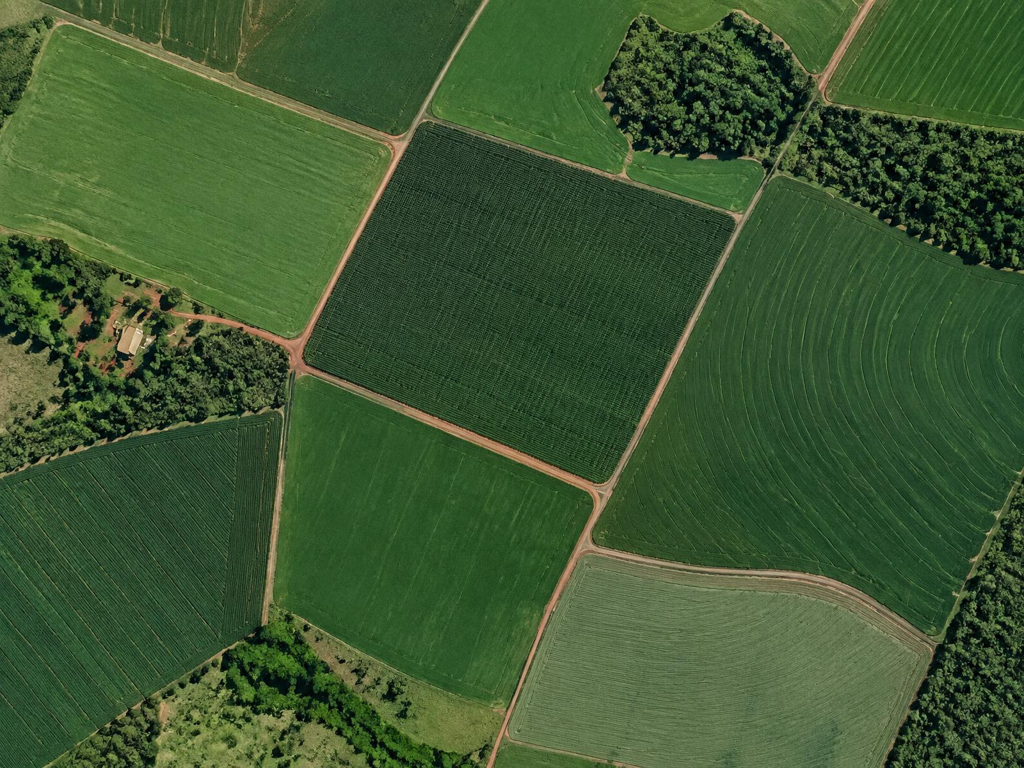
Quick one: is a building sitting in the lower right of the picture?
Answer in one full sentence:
No, looking in the lower right of the picture, there is no building.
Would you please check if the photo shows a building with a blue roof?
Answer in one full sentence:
No, the photo shows no building with a blue roof.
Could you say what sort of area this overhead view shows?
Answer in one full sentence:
It's farmland.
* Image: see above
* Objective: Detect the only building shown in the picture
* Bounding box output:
[116,325,142,355]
